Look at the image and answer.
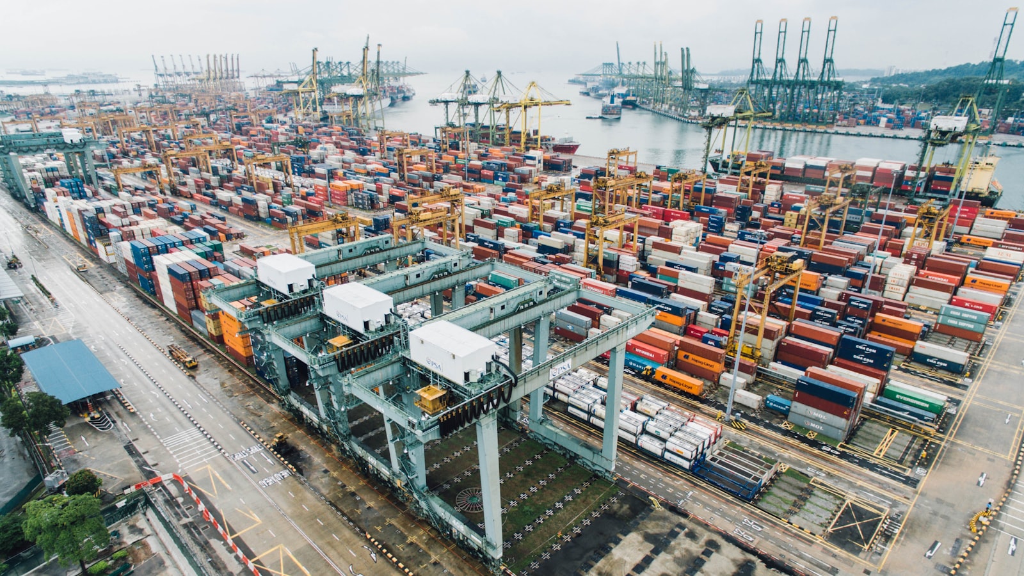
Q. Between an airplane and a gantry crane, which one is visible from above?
gantry crane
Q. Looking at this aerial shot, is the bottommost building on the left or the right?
left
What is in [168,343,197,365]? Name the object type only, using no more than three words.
truck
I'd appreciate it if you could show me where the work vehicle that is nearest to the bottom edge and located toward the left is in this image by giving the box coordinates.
[265,432,293,449]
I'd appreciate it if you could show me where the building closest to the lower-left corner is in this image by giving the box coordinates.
[37,465,71,496]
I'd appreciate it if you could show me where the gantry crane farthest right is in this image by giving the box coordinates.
[968,8,1012,141]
